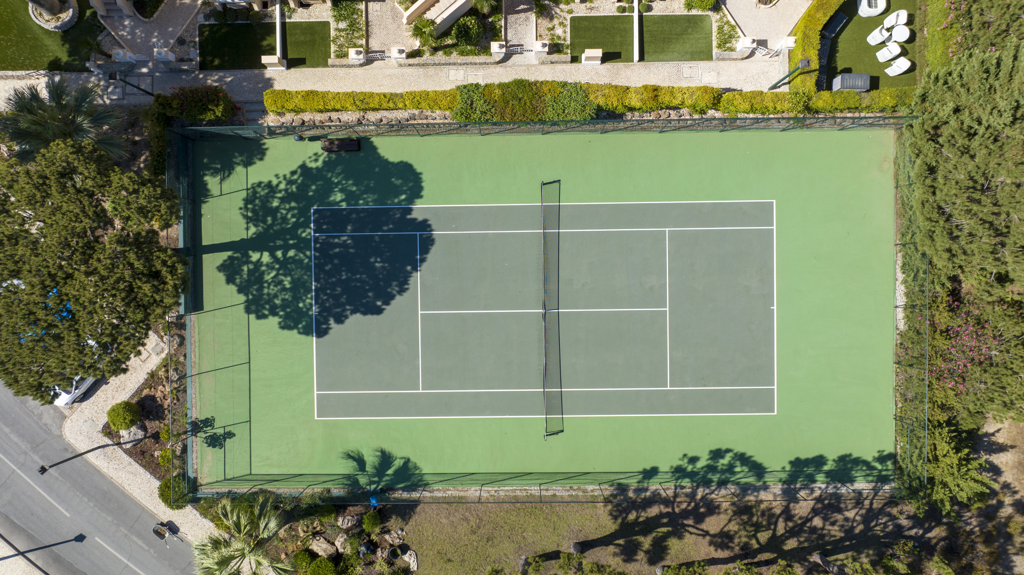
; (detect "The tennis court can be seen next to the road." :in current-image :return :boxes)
[194,130,895,487]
